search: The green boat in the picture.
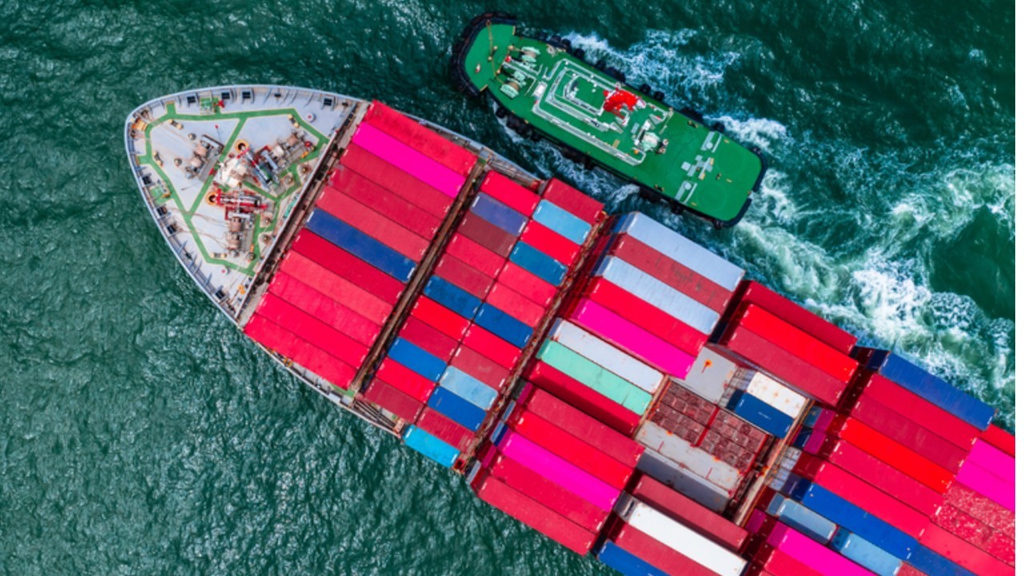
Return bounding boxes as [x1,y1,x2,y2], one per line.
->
[450,12,767,233]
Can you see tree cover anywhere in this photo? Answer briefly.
No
